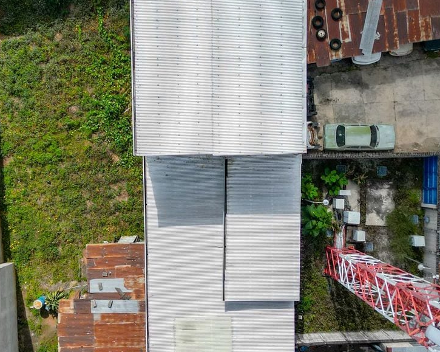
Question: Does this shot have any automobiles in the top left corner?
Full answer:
No, the scene shows no automobile in the top left corner.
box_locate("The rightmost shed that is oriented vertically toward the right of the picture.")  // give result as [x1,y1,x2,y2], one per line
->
[415,156,438,208]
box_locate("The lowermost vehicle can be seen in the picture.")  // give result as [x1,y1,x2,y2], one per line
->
[323,121,394,152]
